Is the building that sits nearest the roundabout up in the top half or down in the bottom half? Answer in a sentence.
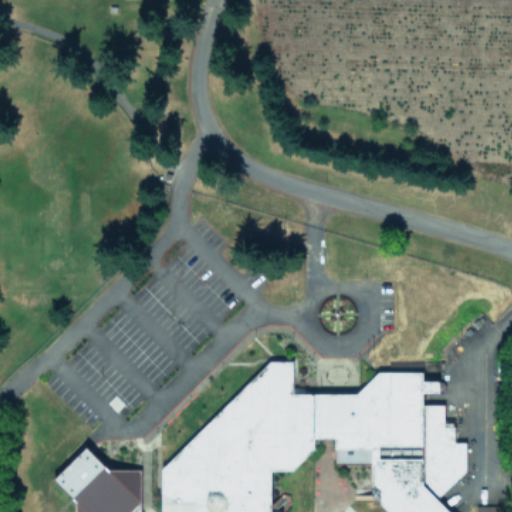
Seen from above, the building that sits nearest the roundabout lies in the bottom half of the view.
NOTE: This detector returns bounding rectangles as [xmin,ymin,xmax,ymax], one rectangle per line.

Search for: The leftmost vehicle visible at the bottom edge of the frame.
[446,494,462,507]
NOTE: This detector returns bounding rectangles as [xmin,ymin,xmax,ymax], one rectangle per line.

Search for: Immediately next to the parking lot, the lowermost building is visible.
[56,448,152,512]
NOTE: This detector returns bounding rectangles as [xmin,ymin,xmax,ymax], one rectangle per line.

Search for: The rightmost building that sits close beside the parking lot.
[162,361,468,512]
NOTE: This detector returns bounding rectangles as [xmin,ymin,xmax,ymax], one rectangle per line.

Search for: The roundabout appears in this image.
[310,288,366,342]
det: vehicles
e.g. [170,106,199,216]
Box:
[220,288,230,298]
[384,310,394,314]
[188,256,198,266]
[481,489,488,505]
[320,255,326,266]
[320,239,326,250]
[382,282,392,288]
[228,298,239,309]
[224,292,236,304]
[252,276,266,290]
[446,494,462,507]
[381,288,394,294]
[201,270,213,282]
[385,316,394,321]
